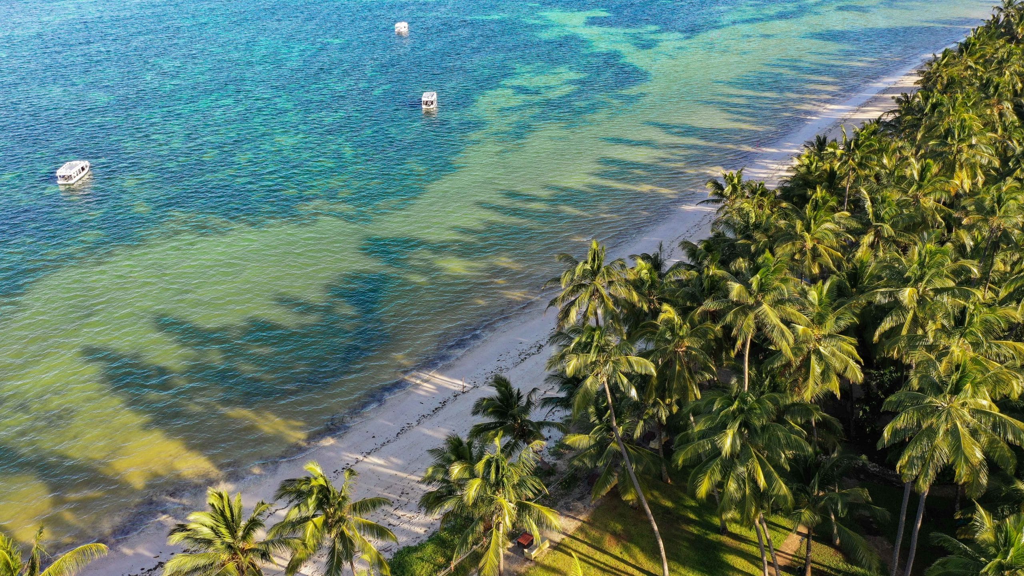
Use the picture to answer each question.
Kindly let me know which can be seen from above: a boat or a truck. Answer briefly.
boat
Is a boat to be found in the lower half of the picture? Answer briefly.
No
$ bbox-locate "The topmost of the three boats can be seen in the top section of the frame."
[393,21,408,33]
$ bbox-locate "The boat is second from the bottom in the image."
[423,88,436,109]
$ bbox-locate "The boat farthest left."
[56,153,93,184]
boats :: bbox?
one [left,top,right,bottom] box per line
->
[393,21,408,33]
[56,153,93,184]
[423,88,436,109]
